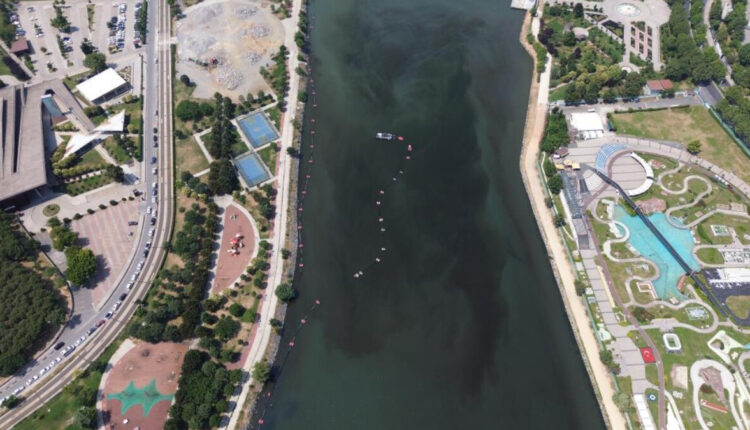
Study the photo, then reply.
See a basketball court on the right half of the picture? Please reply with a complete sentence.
No, I can find no basketball court on the right half of the picture.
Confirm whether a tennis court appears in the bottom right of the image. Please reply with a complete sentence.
No, looking in the bottom right of the image, there is no tennis court.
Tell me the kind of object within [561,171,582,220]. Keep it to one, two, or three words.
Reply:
building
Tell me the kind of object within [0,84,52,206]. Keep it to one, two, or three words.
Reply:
building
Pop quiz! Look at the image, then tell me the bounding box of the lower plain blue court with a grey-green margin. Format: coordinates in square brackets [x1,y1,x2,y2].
[232,149,272,186]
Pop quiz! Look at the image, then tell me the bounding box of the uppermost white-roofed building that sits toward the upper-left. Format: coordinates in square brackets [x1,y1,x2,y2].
[76,67,127,105]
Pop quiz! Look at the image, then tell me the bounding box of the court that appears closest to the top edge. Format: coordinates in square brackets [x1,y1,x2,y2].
[234,105,281,149]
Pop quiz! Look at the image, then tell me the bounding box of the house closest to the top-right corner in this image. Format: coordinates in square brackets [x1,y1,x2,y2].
[645,79,673,96]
